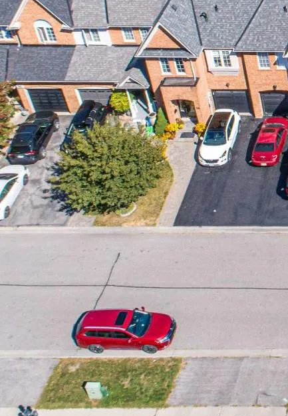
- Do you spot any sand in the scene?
No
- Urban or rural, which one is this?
urban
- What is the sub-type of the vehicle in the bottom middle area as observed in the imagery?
car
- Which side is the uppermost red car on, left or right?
right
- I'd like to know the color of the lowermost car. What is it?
red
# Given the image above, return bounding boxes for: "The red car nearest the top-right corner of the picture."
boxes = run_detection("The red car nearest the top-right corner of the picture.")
[250,114,288,165]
